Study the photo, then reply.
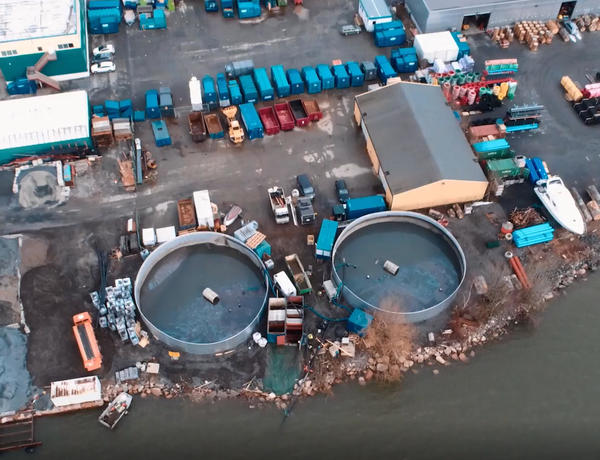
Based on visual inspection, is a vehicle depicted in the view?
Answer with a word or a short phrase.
Yes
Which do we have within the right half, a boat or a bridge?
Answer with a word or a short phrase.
boat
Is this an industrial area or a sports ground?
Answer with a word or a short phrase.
industrial area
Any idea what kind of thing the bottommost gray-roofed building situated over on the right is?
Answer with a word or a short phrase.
warehouse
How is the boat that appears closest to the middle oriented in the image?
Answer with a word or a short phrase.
at an angle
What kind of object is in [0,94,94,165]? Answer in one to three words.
building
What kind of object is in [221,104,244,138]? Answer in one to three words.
work vehicle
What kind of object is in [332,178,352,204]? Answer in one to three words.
vehicle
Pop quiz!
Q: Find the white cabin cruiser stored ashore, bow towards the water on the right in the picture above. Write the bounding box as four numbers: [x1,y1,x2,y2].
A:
[532,177,589,237]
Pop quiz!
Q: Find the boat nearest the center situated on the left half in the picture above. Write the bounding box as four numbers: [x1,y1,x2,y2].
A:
[223,202,244,225]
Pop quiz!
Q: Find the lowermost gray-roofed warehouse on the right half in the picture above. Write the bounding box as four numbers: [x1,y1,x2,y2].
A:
[358,78,497,209]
